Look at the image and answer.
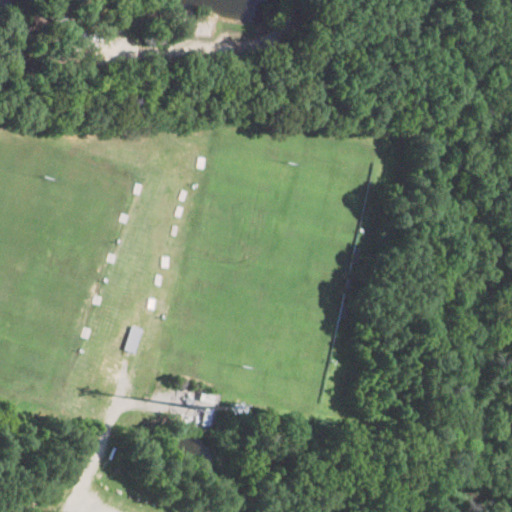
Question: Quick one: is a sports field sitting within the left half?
Yes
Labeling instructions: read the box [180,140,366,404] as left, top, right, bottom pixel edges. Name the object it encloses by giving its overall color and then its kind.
green sports field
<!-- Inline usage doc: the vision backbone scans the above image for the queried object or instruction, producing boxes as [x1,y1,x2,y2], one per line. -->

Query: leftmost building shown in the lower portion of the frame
[123,324,144,354]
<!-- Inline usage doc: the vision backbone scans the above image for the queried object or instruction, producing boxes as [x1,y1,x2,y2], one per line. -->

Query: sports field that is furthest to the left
[0,152,134,386]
